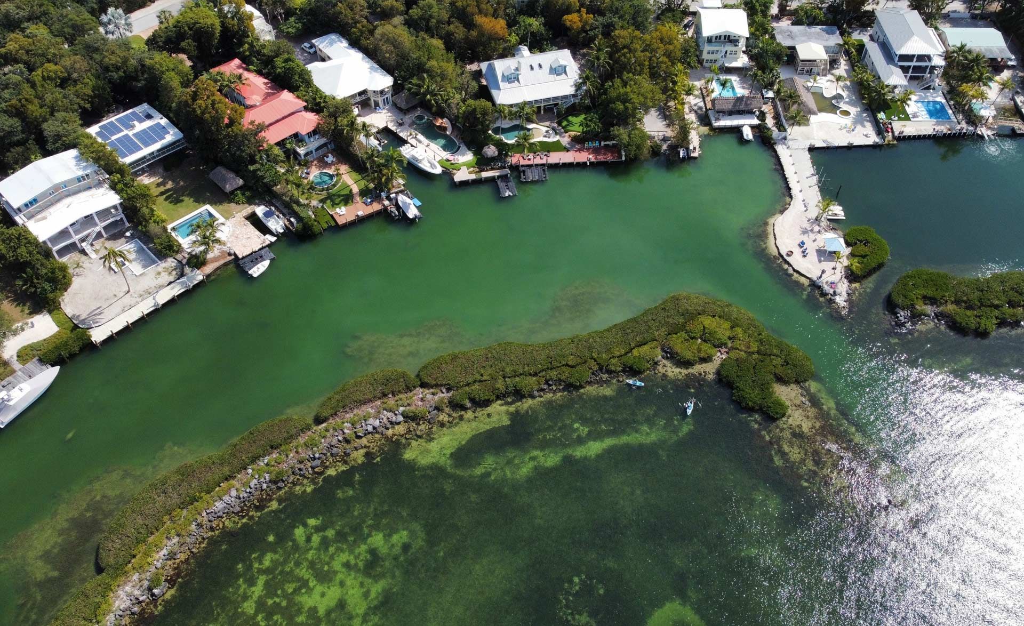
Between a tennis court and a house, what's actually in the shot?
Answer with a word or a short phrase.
house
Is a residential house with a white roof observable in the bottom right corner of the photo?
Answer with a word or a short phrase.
No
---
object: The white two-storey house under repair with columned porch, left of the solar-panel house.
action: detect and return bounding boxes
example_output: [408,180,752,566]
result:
[0,146,130,262]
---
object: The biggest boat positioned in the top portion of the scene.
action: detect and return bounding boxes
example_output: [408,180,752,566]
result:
[395,144,442,176]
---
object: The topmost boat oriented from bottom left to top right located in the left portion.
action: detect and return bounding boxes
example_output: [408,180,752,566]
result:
[249,259,270,277]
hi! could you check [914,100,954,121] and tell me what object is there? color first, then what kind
blue swimming pool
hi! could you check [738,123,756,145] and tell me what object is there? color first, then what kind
white boat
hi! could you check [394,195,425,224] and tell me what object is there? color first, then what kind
white boat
